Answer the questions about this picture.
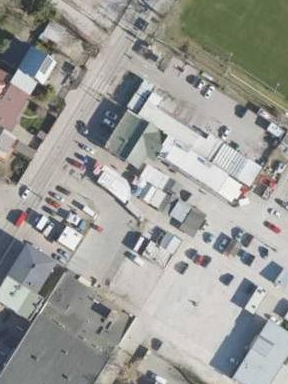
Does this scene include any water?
No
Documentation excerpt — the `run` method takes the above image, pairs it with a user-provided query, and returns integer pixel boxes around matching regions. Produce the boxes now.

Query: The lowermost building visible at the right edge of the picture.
[232,319,288,384]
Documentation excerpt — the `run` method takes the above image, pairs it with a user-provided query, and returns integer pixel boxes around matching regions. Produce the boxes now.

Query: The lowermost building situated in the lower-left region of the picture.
[0,272,136,384]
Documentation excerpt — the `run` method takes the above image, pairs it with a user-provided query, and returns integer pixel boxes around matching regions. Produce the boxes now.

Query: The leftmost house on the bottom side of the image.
[0,226,55,315]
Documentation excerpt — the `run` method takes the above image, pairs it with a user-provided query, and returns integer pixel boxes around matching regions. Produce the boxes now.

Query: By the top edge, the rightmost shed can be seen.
[40,19,67,44]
